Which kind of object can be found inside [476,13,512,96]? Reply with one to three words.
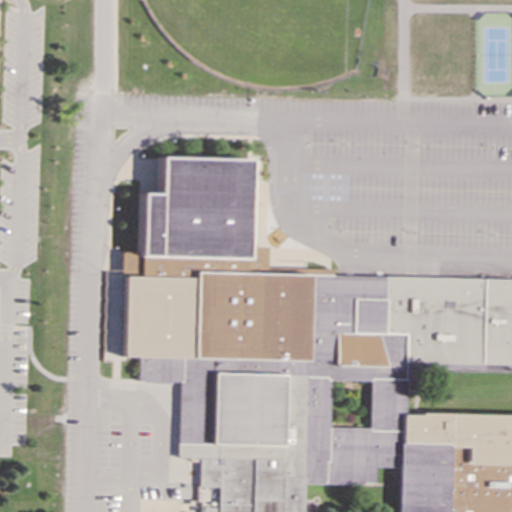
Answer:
tennis court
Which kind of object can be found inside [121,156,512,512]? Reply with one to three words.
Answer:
building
